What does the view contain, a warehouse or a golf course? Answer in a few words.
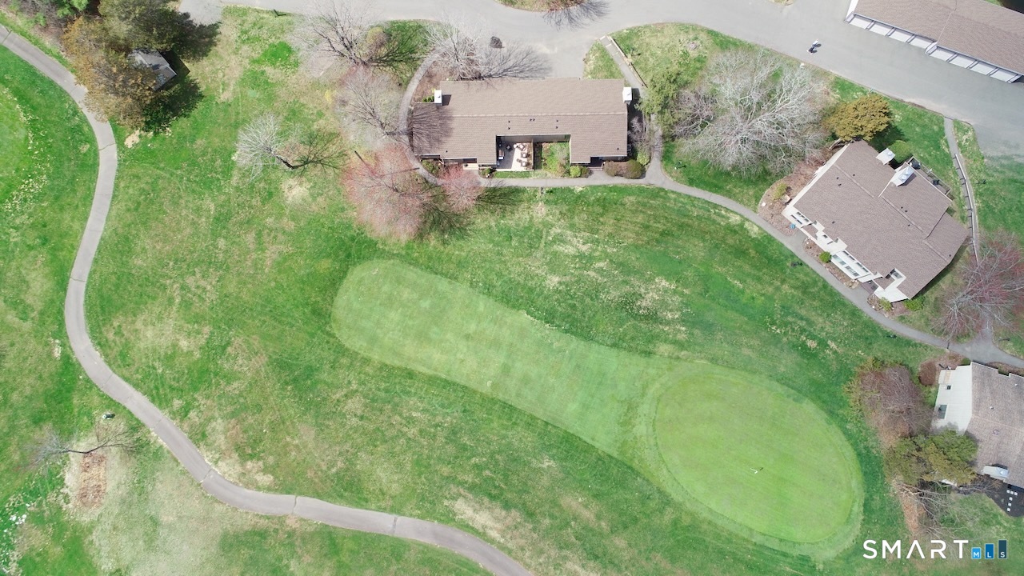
golf course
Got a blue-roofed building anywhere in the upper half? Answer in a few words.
No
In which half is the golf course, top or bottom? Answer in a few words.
bottom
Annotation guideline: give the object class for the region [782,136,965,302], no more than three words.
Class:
house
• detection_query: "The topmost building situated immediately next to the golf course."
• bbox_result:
[412,79,632,171]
